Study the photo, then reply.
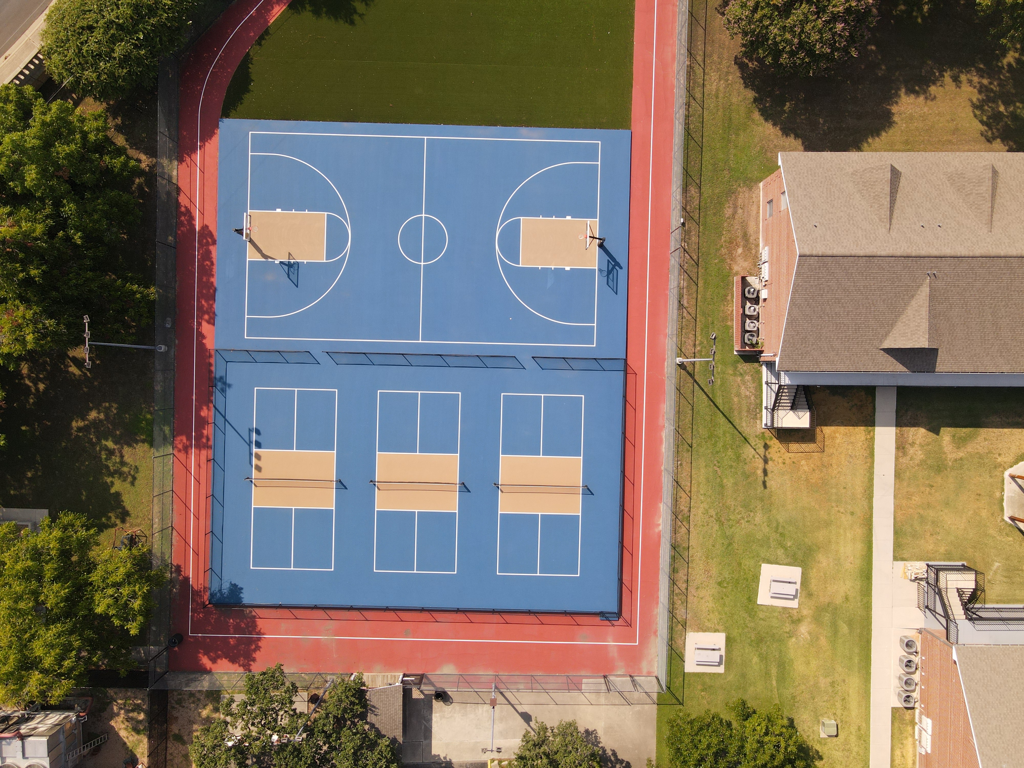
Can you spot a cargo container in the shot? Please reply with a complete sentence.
No, there is no cargo container in the image.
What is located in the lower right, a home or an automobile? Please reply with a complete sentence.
The feature located in the lower right is a home.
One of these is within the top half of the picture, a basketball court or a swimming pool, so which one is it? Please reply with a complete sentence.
There is a basketball court within the top half of the picture.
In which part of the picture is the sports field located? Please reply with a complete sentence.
The sports field is in the top part of the image.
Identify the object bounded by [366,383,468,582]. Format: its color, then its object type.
blue sports court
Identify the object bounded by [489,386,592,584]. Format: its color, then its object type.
blue sports court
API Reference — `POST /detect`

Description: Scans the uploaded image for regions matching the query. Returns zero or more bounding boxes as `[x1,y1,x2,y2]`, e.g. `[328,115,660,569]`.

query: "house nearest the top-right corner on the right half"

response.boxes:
[758,150,1024,386]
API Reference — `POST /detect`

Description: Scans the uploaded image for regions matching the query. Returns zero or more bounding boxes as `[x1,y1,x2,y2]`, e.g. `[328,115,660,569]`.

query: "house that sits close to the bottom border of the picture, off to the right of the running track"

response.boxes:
[915,603,1024,768]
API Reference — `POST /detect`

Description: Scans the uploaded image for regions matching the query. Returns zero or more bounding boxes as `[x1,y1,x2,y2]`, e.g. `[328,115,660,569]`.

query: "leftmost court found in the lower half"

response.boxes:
[242,380,345,579]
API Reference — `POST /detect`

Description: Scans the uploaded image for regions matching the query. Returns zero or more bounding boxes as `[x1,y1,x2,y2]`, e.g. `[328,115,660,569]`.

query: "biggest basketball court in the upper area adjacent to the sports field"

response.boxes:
[213,118,632,359]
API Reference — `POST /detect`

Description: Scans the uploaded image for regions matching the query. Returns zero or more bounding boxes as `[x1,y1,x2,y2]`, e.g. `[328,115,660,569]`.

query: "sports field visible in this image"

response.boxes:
[220,0,635,129]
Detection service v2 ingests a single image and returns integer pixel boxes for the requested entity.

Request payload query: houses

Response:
[915,603,1024,768]
[758,150,1024,386]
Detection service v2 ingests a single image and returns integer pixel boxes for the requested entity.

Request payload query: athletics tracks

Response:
[169,0,678,690]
